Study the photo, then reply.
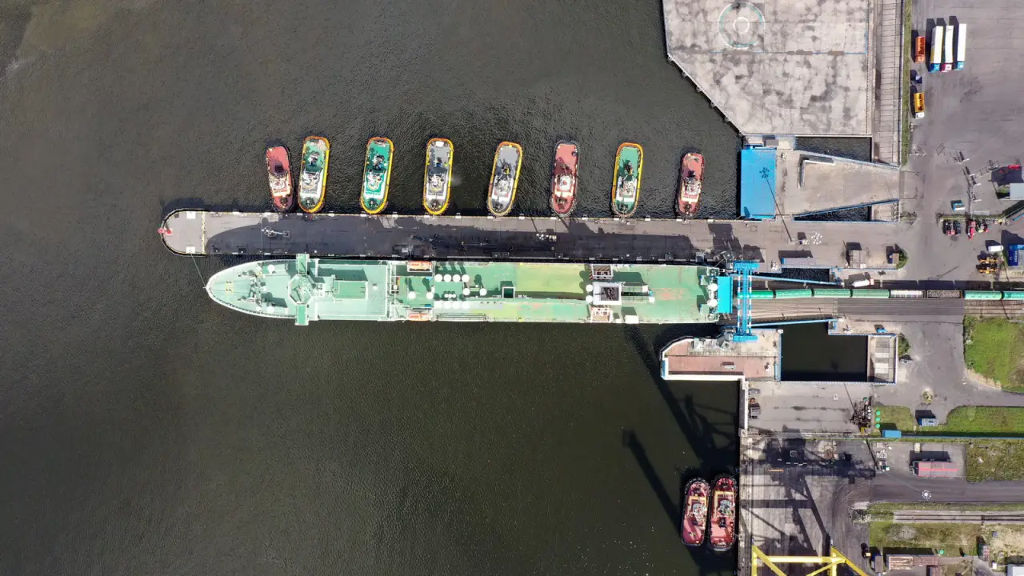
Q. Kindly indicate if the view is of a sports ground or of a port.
port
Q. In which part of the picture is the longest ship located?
center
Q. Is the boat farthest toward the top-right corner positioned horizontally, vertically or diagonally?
vertically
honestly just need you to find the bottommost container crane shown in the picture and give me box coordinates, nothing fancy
[752,541,873,576]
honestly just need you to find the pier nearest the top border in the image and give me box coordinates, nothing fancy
[160,208,740,275]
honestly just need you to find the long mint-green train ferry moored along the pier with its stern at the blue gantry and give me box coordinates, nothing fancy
[205,254,733,325]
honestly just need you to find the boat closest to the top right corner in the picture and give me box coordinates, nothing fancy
[673,152,703,219]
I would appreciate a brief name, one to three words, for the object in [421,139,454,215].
boat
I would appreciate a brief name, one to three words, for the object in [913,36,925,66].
vehicle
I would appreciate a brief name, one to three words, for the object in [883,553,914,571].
shed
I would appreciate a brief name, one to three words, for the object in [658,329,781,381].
pier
